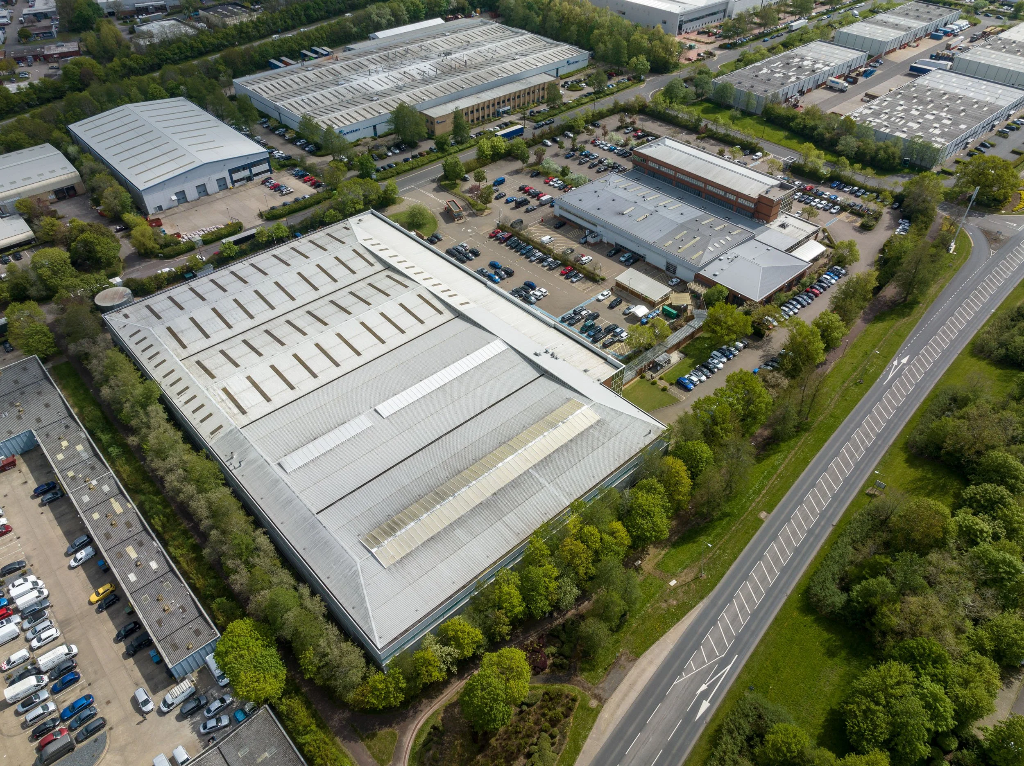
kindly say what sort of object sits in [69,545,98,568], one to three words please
vehicle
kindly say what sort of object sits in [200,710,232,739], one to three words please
car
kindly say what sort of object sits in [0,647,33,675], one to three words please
van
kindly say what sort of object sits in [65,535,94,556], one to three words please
car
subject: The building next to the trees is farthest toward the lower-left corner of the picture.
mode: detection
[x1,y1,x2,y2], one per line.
[186,706,306,766]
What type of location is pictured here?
industrial area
